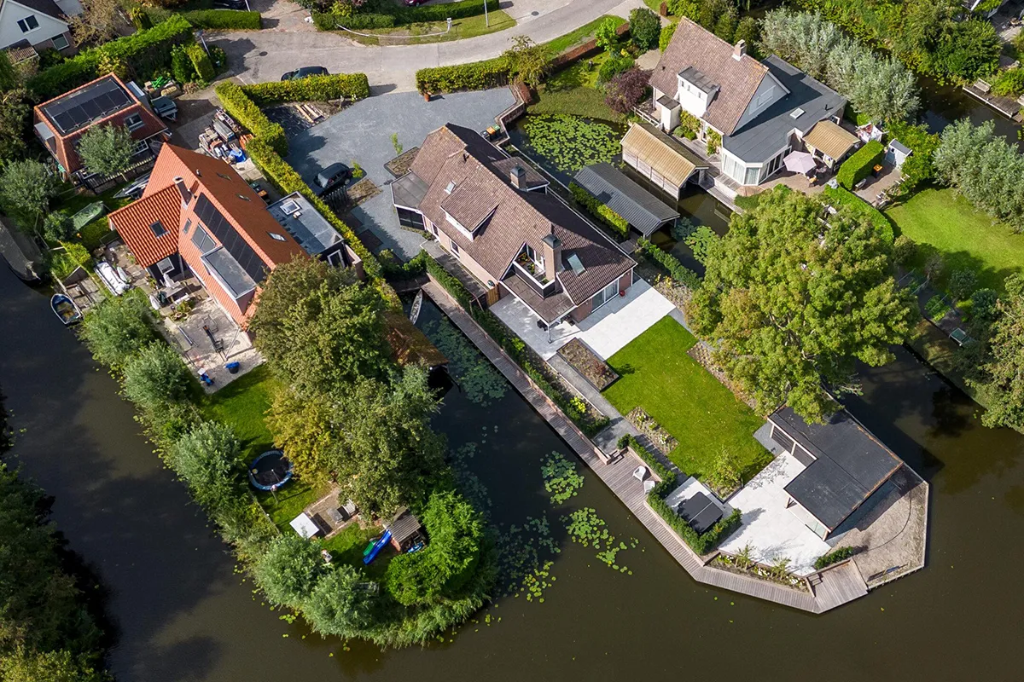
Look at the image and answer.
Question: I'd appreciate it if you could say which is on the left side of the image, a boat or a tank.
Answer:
boat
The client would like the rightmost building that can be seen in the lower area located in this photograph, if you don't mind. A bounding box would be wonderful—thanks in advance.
[768,400,907,544]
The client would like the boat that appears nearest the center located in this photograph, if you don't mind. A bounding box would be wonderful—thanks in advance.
[410,290,422,325]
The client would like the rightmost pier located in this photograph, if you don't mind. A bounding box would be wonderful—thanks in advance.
[960,82,1024,123]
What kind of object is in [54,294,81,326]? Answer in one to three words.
boat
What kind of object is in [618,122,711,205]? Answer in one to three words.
building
